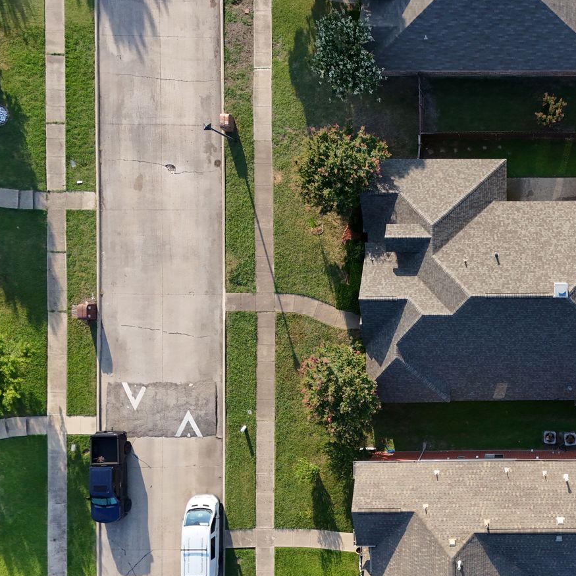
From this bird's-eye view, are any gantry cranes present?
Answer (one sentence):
No, there's no gantry crane here.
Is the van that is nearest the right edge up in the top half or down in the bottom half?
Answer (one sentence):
The bottom half of the photo is where the van that is nearest the right edge is.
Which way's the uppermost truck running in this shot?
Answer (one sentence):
In this picture, the uppermost truck lies from top to bottom.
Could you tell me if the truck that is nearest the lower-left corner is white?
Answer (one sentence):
No, the truck that is nearest the lower-left corner is black.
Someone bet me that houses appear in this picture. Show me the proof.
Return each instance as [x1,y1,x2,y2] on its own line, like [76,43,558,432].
[360,158,576,403]
[362,0,576,77]
[352,443,576,576]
